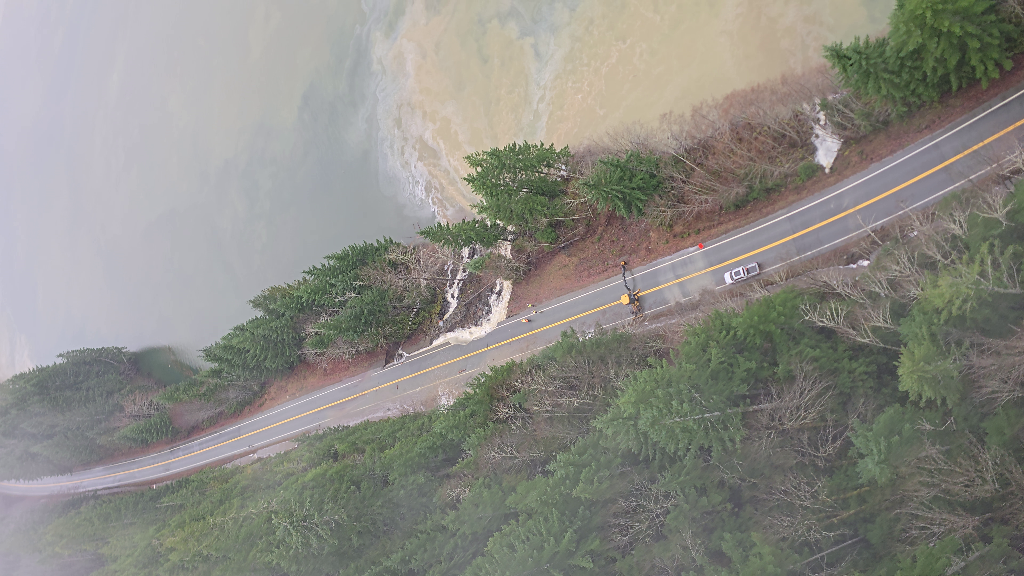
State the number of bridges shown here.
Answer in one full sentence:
The picture shows no bridges.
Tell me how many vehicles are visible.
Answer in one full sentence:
There are 2 vehicles in the image.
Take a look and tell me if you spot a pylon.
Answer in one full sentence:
No, no pylon is visible in the view.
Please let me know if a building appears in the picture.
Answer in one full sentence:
No, there appears to be no building in this shot.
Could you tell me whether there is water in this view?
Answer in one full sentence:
Yes, water shows up in the scene.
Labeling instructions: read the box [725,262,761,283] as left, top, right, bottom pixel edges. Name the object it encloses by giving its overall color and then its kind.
white truck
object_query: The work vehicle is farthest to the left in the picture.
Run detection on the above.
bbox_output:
[620,260,645,321]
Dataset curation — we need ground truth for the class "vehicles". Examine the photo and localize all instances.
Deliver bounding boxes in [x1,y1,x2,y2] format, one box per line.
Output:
[725,262,761,283]
[620,260,645,321]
